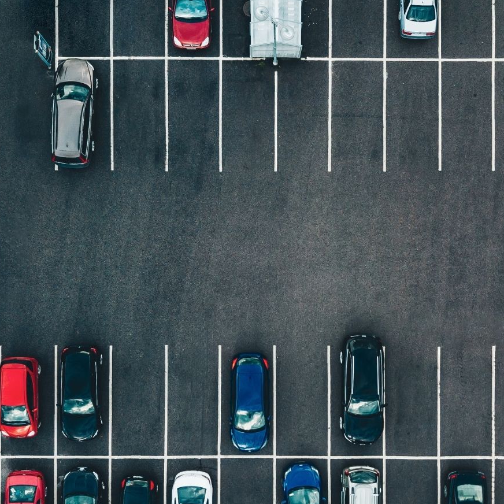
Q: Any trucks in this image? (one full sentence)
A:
No, I can see no truck in this picture.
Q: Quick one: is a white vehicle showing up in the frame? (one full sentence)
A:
Yes, the image includes a white vehicle.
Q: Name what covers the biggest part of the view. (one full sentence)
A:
The bulk of the photo consists of paved ground.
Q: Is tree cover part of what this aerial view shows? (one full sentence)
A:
No, no tree cover is visible.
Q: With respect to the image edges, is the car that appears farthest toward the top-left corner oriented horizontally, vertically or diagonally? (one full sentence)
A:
From this overhead view, the car that appears farthest toward the top-left corner appears to run vertically.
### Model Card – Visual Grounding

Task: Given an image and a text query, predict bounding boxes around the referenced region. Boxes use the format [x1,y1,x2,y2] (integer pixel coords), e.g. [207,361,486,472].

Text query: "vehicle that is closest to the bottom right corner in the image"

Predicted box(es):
[446,468,490,504]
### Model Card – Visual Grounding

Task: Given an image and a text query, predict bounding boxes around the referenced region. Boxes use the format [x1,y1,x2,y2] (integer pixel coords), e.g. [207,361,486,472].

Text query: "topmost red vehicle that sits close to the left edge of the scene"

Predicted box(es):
[0,356,41,439]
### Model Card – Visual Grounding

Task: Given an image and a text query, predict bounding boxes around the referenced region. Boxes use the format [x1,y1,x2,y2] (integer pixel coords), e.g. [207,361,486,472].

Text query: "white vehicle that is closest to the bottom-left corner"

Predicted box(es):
[172,468,212,504]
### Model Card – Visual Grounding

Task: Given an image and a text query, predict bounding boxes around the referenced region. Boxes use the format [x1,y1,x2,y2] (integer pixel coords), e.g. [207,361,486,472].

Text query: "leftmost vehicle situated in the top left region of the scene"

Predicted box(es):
[46,58,97,169]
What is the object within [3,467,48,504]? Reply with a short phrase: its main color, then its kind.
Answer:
red car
